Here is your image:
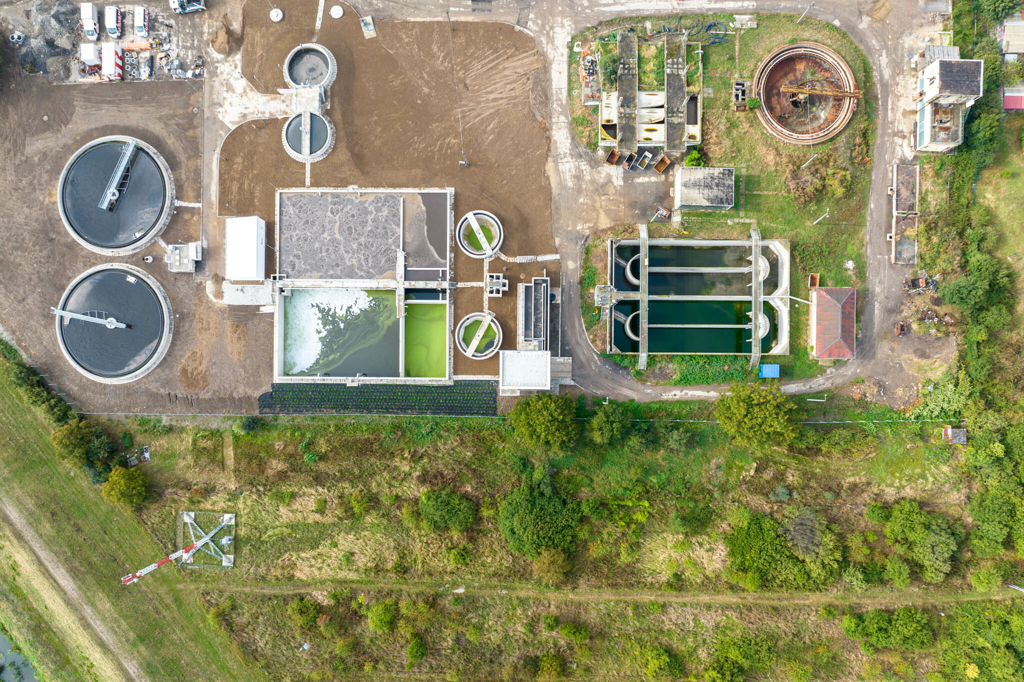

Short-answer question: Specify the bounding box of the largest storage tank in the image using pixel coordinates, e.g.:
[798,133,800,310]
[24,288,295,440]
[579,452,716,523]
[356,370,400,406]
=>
[595,224,789,369]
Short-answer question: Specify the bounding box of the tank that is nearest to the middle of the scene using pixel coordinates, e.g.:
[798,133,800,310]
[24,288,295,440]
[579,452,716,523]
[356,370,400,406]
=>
[455,308,502,360]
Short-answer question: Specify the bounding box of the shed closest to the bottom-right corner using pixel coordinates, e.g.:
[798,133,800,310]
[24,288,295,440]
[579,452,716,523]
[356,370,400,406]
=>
[938,428,967,444]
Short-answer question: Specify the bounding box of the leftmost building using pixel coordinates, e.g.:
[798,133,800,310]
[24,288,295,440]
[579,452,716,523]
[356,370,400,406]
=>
[165,242,204,273]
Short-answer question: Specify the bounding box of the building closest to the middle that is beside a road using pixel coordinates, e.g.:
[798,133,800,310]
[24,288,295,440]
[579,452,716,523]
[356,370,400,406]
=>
[500,351,550,395]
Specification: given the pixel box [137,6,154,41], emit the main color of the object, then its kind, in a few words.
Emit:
white vehicle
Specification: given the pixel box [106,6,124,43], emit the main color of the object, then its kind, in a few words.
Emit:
white vehicle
